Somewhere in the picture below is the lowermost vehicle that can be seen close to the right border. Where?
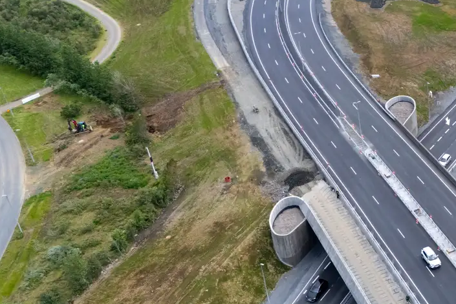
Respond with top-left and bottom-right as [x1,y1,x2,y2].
[421,246,440,268]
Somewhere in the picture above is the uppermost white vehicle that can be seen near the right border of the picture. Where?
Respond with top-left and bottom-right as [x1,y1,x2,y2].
[439,153,453,167]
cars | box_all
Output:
[439,153,453,167]
[421,246,440,268]
[305,279,328,302]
